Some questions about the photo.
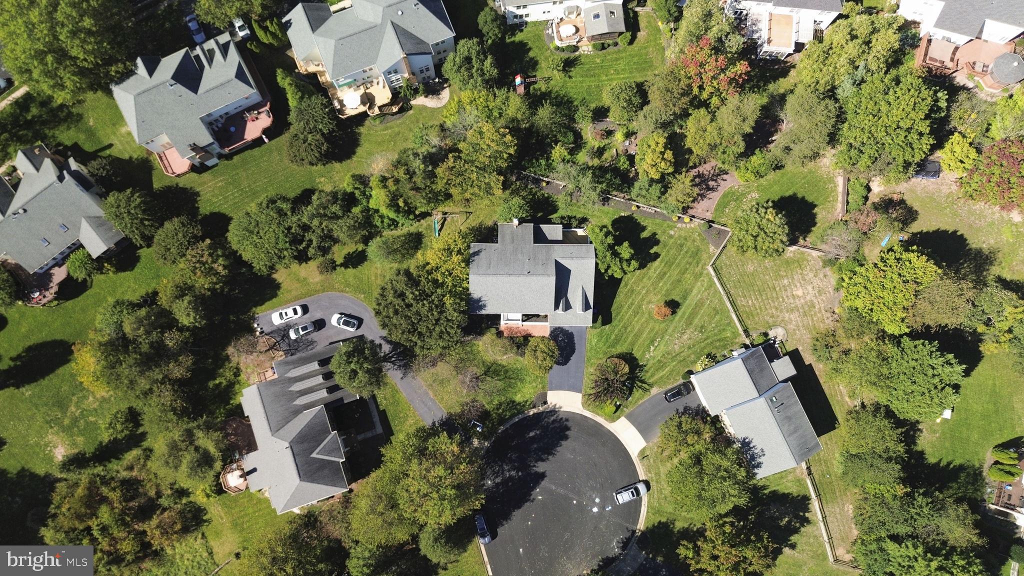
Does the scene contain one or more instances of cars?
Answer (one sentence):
Yes, I can see a car in this picture.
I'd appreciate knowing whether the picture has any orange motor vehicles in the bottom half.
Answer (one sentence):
No, the scene shows no orange motor vehicle in the bottom half.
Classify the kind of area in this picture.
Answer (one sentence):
This looks like a residential area.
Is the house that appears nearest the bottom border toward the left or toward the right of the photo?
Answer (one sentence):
You can find the house that appears nearest the bottom border on the right side of the picture.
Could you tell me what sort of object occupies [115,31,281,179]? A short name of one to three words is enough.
house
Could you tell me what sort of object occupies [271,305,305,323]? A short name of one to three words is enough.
car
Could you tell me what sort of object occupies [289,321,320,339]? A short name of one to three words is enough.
car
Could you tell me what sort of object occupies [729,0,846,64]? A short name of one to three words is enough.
house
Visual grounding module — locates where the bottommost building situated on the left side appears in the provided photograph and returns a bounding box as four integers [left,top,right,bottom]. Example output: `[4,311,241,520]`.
[218,342,360,515]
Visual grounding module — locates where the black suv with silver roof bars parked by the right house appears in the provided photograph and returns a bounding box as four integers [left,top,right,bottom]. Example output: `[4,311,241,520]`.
[662,382,695,403]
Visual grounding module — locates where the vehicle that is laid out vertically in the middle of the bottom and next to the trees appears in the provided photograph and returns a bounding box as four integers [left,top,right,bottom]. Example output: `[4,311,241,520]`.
[474,512,493,545]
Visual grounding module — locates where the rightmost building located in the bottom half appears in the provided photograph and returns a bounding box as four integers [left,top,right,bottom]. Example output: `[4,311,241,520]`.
[976,458,1024,527]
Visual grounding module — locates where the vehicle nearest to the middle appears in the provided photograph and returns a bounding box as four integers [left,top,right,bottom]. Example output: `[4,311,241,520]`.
[330,313,361,332]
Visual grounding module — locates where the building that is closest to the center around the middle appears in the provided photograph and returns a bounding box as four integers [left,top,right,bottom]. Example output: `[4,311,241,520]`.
[469,219,596,327]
